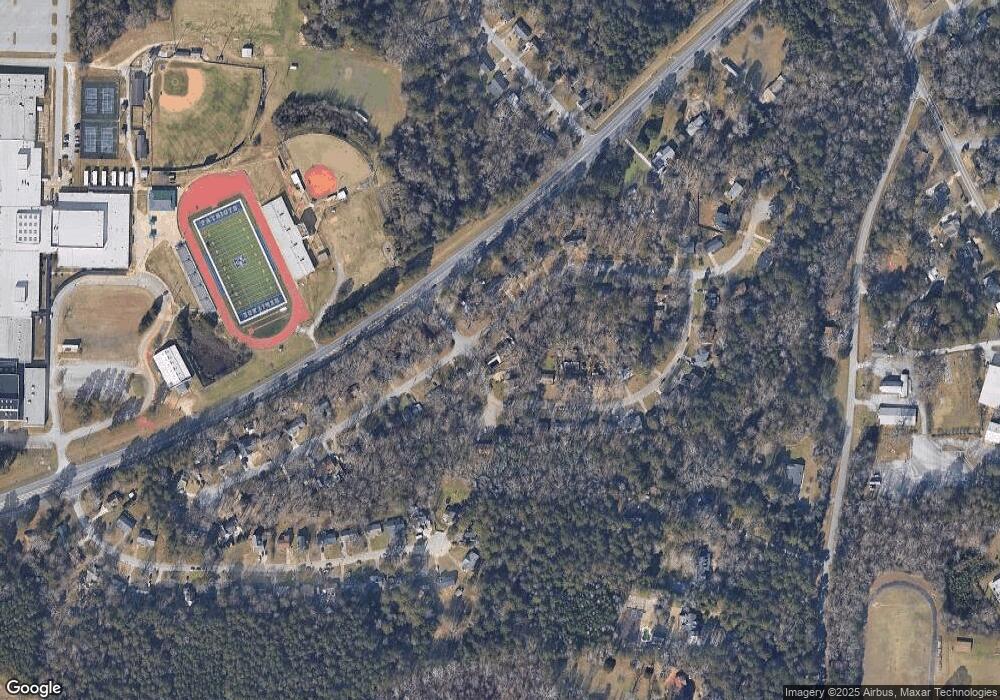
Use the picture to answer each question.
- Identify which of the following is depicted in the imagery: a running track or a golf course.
running track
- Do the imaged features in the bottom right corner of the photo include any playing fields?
Yes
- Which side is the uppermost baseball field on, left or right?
left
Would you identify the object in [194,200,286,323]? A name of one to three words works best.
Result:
sports field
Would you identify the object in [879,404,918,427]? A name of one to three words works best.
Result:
building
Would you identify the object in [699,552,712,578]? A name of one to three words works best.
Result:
house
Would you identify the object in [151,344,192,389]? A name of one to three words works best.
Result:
building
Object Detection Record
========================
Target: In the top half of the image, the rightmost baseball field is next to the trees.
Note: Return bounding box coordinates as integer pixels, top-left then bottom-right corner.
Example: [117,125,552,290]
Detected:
[286,134,373,204]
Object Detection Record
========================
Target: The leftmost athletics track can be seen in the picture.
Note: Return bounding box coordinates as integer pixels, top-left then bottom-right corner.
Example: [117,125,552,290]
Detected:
[177,168,310,351]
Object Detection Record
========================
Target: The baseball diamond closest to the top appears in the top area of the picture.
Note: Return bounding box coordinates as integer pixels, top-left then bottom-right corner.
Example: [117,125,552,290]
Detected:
[154,62,262,168]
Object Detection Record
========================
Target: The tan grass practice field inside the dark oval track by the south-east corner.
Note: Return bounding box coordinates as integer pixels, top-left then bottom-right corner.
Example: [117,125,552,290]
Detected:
[869,586,933,700]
